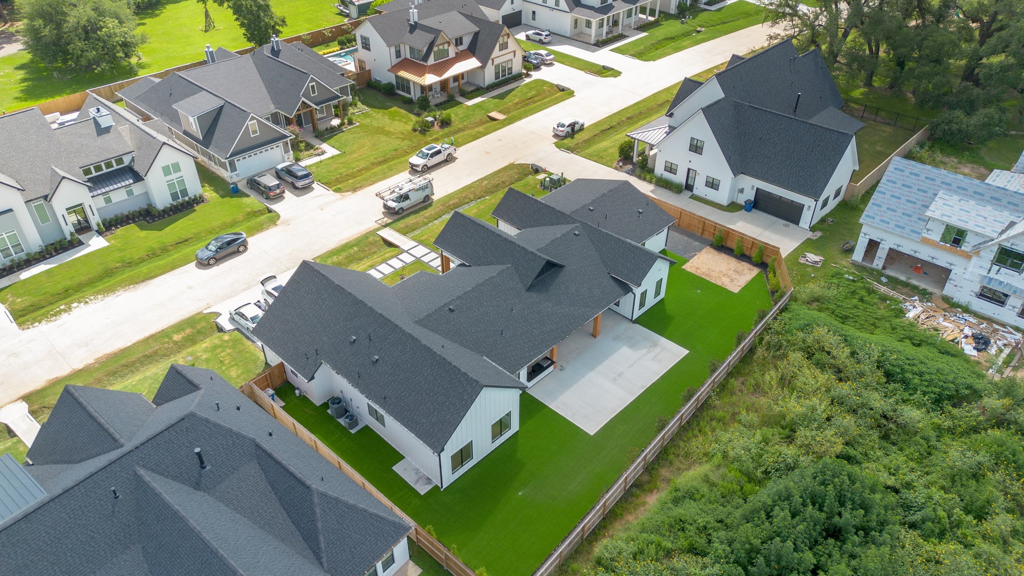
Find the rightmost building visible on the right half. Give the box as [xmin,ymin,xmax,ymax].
[850,143,1024,328]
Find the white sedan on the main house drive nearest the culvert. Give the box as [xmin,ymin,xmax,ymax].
[227,299,266,333]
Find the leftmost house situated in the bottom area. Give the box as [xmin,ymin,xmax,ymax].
[0,362,417,576]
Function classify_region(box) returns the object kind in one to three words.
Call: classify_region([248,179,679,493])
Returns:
house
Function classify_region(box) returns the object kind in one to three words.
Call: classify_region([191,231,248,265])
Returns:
car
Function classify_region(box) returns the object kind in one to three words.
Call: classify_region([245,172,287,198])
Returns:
car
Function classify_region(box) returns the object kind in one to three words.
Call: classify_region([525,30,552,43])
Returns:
vehicle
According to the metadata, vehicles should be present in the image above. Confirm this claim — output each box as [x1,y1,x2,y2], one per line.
[377,170,434,214]
[530,50,554,63]
[245,172,287,198]
[227,299,266,333]
[525,30,552,43]
[407,143,455,172]
[523,51,542,68]
[274,163,314,188]
[191,231,248,265]
[553,119,584,136]
[259,270,288,304]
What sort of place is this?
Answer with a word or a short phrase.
residential area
